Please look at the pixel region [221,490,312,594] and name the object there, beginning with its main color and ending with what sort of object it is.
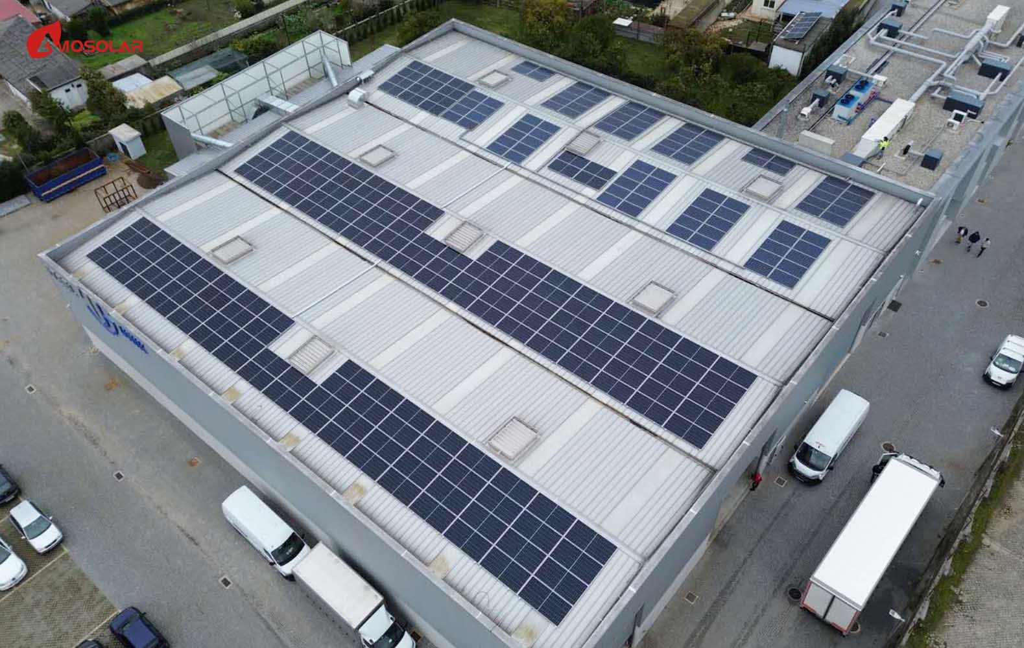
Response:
white van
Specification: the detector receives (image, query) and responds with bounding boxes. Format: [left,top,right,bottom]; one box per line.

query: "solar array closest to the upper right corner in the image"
[775,10,823,44]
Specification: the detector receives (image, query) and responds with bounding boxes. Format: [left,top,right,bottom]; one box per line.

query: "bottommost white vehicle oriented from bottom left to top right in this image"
[793,450,944,639]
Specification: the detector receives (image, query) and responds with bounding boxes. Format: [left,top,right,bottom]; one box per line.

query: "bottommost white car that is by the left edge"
[0,536,31,595]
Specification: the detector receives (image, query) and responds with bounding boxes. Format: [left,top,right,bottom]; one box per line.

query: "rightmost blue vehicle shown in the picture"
[108,604,176,648]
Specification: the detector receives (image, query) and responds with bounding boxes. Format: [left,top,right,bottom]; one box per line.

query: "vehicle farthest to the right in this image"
[984,330,1024,393]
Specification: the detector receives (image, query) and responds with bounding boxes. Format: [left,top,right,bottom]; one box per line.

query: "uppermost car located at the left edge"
[0,461,25,510]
